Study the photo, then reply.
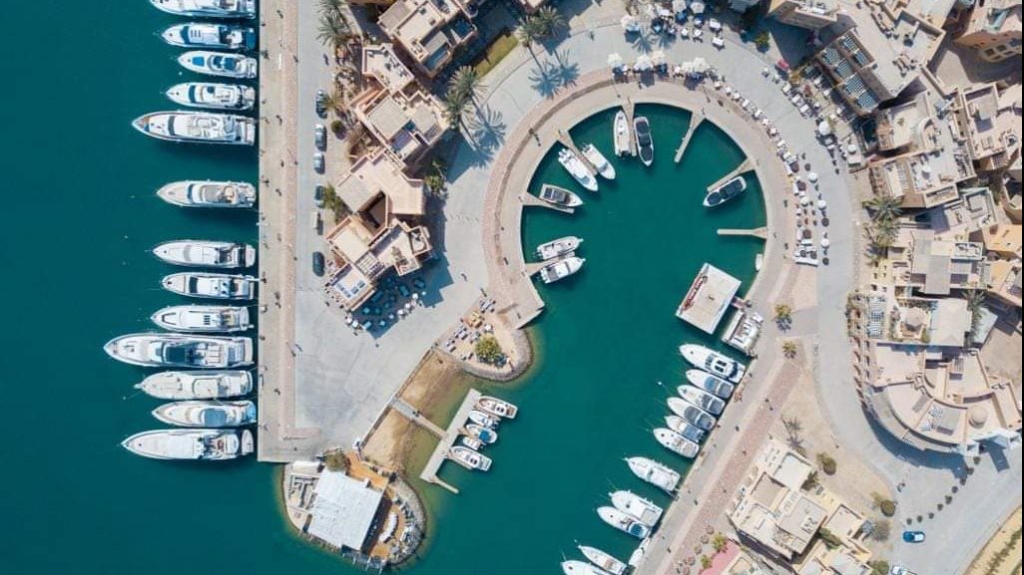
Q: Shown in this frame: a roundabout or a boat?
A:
boat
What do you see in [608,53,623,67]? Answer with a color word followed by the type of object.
white umbrella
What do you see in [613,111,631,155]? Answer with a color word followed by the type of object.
white boat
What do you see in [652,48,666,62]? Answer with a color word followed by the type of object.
white umbrella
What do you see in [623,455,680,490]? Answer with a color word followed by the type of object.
white boat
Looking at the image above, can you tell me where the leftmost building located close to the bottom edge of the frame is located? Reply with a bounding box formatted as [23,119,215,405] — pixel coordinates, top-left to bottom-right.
[287,451,401,572]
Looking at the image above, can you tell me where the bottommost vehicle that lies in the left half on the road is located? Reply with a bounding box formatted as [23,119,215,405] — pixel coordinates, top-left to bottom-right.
[311,251,324,276]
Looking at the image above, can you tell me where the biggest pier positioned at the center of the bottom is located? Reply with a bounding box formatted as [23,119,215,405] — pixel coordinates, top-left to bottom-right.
[420,389,481,483]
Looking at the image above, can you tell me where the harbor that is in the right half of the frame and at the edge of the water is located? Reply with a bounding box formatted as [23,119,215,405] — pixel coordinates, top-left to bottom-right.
[518,99,771,575]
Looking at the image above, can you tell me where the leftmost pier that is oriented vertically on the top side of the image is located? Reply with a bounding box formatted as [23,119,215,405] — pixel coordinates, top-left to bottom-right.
[622,103,637,157]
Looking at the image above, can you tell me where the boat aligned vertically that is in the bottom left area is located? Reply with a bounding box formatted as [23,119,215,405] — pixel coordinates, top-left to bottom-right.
[242,430,255,456]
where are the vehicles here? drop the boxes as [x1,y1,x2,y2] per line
[314,92,326,117]
[311,213,320,227]
[902,530,925,544]
[312,151,324,174]
[313,183,325,207]
[311,251,324,276]
[313,123,325,148]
